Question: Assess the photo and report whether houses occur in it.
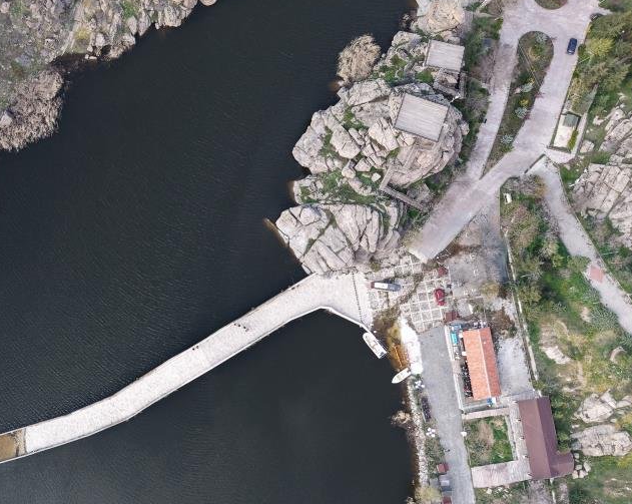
Yes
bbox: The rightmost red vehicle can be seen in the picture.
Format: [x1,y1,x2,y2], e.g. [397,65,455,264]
[435,287,448,306]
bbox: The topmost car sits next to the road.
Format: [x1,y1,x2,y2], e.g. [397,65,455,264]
[589,8,610,23]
